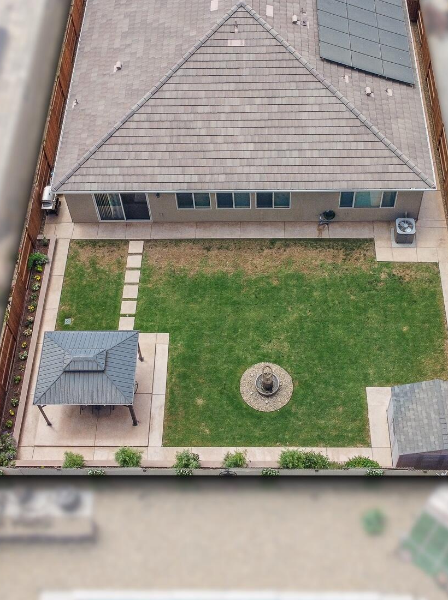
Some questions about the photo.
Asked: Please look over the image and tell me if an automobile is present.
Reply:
No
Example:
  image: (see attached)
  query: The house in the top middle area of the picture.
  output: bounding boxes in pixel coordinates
[49,0,438,223]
